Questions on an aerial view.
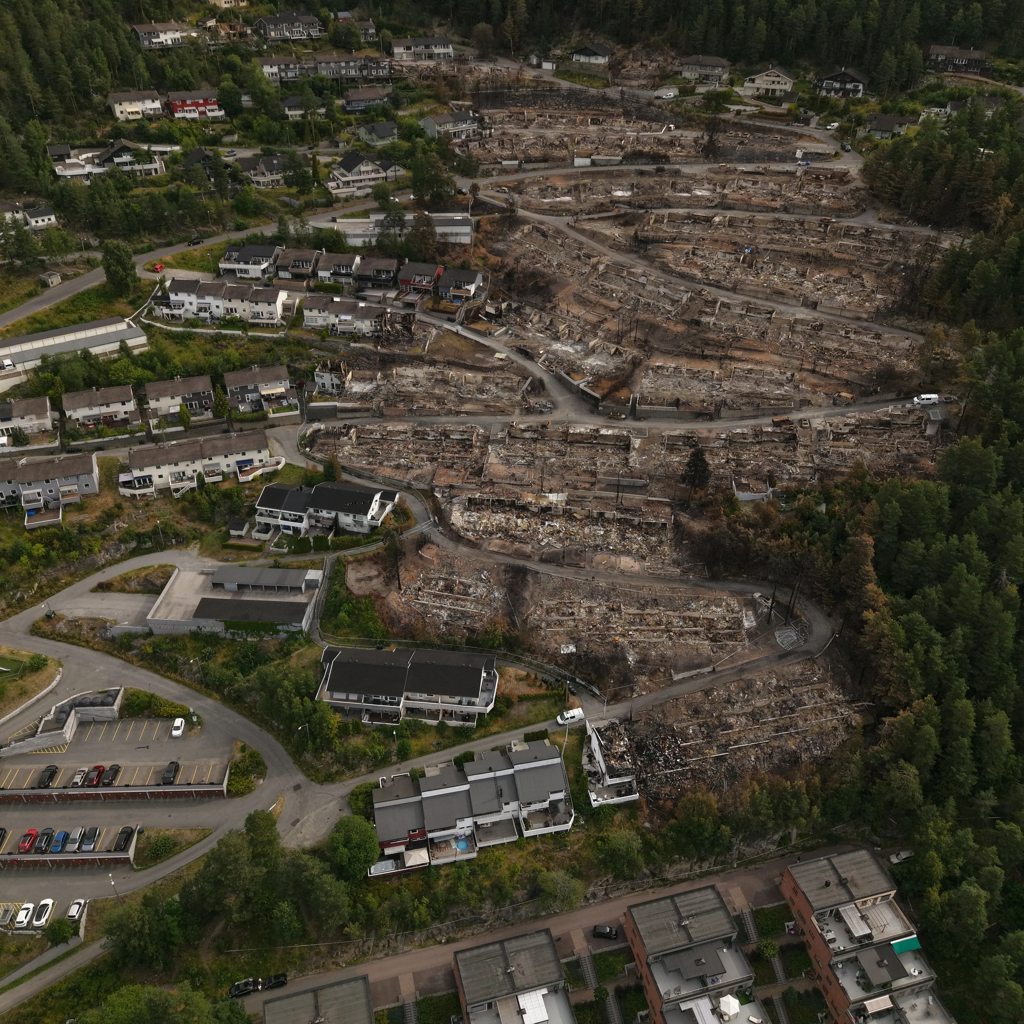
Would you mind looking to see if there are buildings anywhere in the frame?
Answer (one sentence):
Yes, there's a building here.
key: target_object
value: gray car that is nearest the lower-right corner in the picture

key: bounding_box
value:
[889,847,917,865]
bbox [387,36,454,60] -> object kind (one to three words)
house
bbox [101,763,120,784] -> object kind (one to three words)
car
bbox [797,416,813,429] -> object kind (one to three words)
vehicle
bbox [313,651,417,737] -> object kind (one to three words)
house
